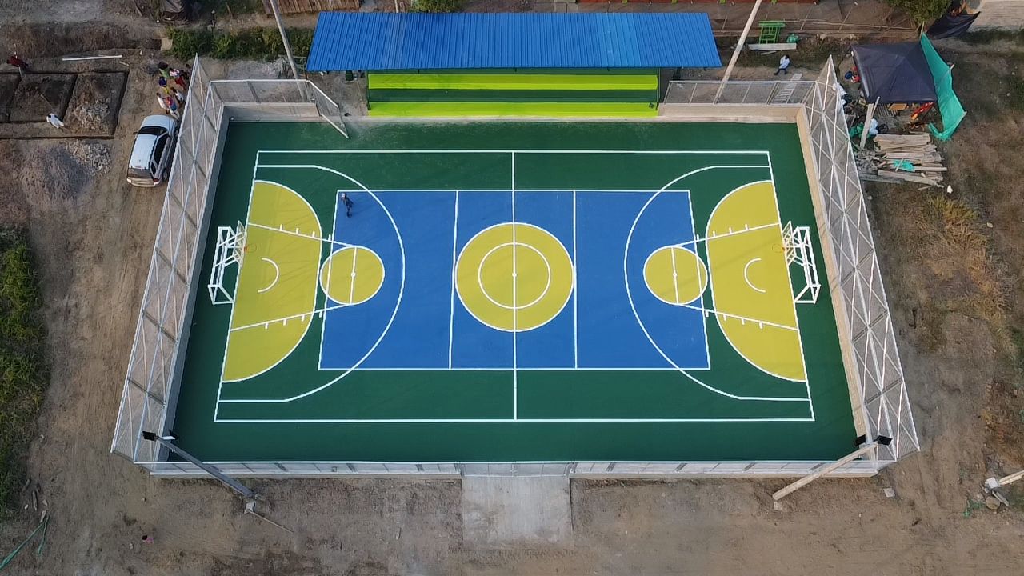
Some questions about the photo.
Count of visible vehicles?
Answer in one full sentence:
In total, 1 vehicle can be seen.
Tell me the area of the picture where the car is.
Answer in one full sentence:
Look in the top left portion of the view to spot the car.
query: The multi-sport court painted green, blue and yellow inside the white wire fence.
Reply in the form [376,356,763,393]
[165,116,863,467]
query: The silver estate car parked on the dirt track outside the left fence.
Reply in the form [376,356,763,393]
[125,115,175,185]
